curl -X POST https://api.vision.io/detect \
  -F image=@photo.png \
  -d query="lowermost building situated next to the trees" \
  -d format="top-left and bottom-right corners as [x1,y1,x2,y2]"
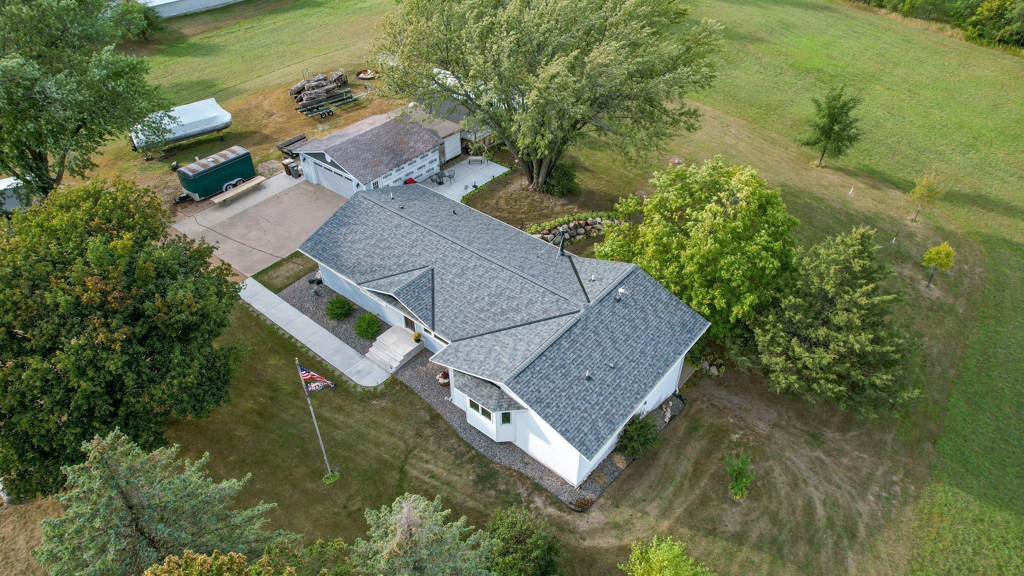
[298,182,713,488]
